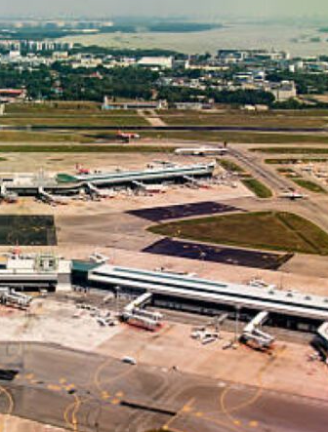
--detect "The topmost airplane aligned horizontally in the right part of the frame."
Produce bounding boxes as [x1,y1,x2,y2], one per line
[173,140,226,156]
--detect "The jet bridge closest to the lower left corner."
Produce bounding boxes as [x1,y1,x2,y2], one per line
[3,285,35,306]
